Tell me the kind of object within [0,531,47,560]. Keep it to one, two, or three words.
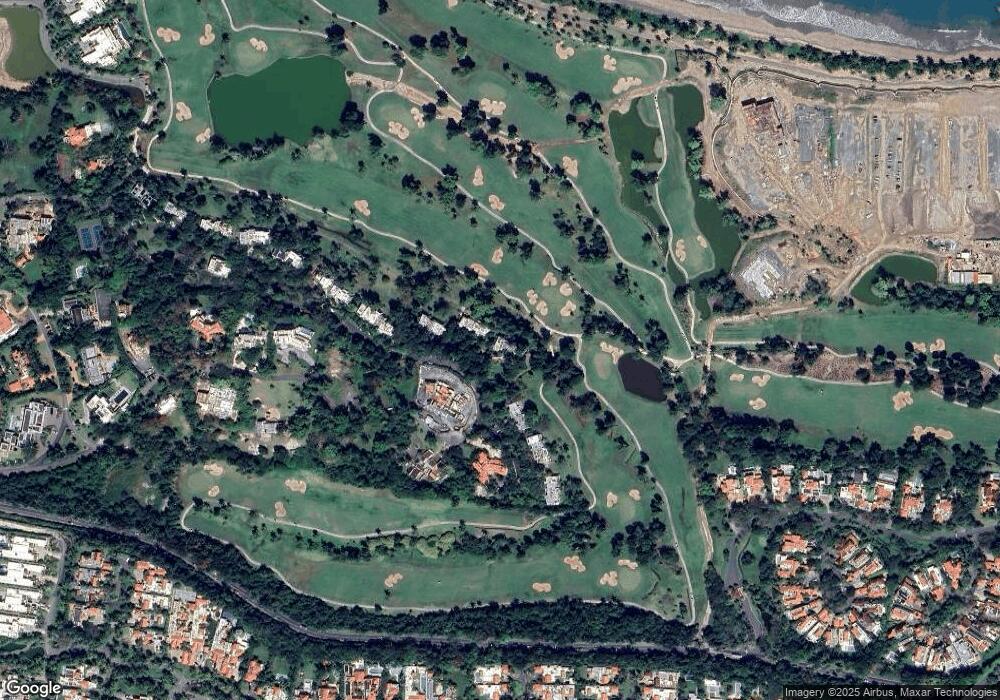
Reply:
house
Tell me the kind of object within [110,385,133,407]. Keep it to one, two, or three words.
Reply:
swimming pool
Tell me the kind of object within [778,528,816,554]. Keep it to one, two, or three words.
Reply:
house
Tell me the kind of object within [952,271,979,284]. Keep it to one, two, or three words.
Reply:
shed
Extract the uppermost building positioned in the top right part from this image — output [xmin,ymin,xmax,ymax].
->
[742,100,785,145]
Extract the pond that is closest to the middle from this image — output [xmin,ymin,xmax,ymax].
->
[618,351,669,401]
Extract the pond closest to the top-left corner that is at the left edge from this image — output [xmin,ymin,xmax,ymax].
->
[0,5,58,82]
